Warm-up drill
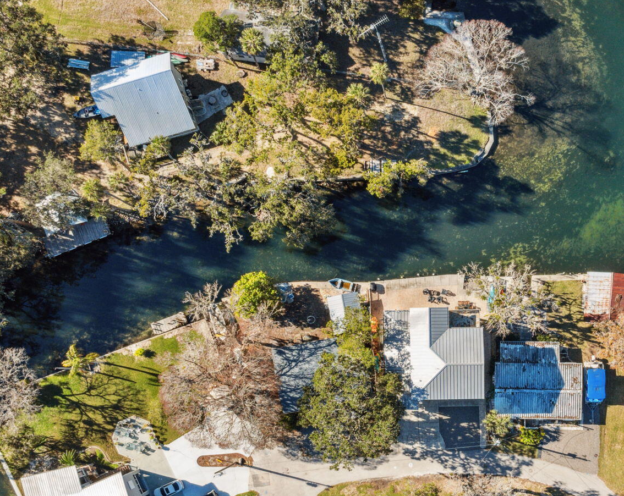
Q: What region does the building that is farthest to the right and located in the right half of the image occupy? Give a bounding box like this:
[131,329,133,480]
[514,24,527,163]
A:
[583,272,624,320]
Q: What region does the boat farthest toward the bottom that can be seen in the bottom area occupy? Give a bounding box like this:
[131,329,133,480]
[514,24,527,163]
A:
[584,361,604,407]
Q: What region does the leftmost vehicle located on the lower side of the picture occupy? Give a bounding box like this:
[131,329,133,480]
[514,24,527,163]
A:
[150,481,184,496]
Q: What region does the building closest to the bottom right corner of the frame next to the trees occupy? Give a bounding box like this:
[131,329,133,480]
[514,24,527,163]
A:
[494,341,582,419]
